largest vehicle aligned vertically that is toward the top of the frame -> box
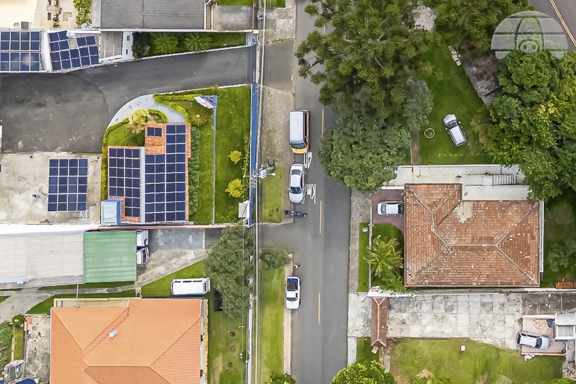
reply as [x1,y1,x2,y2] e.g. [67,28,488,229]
[291,111,309,151]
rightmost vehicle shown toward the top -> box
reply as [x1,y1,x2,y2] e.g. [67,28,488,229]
[444,113,466,146]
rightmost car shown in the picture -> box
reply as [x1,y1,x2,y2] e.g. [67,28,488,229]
[517,331,550,350]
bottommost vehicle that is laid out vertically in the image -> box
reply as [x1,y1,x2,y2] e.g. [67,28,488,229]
[284,274,302,310]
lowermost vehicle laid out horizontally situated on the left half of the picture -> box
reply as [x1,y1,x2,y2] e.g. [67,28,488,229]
[170,278,210,296]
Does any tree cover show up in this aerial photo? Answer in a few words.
Yes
